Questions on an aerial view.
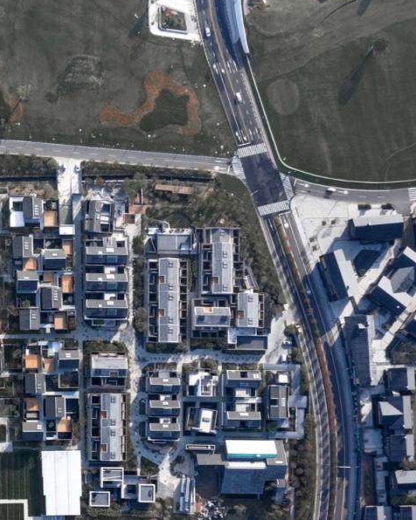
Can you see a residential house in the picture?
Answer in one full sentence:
Yes, the photo shows a residential house.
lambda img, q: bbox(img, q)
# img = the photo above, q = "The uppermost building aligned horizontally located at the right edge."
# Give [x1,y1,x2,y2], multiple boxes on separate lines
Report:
[348,215,404,242]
